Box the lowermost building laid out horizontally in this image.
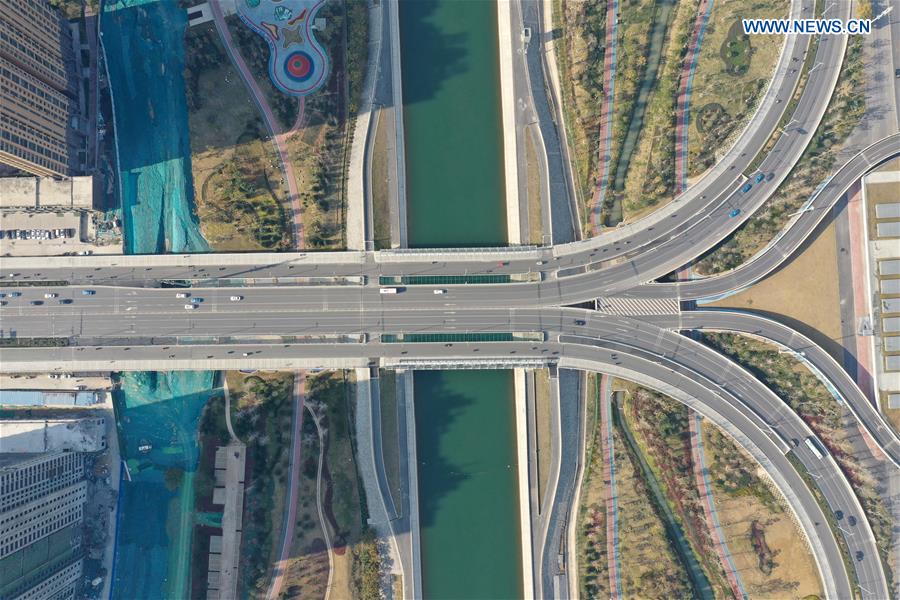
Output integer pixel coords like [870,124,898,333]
[0,417,116,452]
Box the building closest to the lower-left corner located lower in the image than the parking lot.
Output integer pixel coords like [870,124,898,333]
[0,452,86,600]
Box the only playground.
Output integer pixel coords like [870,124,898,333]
[236,0,329,95]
